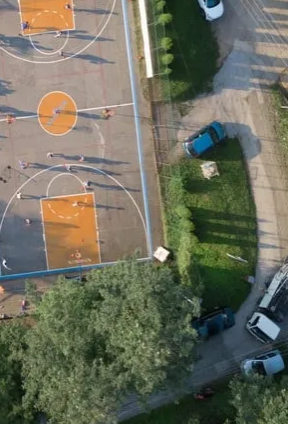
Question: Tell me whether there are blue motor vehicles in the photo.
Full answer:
Yes, the picture does show a blue motor vehicle.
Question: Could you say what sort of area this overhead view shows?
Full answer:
The area seen from above is a sports ground.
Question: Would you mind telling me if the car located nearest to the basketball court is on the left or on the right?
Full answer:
The car located nearest to the basketball court sits on the right side.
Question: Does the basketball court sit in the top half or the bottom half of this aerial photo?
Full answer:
You can find the basketball court in the top half.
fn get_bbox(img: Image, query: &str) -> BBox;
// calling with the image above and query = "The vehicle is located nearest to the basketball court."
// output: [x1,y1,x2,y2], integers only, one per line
[181,121,233,157]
